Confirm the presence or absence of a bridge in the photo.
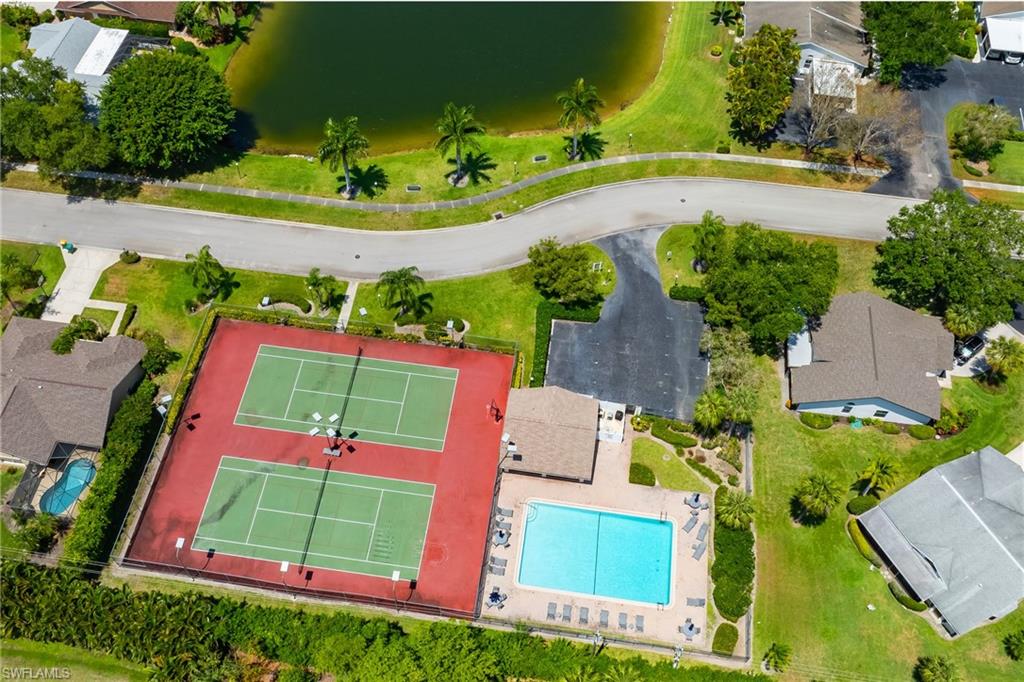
No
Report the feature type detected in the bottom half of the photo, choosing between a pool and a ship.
pool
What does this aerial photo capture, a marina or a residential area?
residential area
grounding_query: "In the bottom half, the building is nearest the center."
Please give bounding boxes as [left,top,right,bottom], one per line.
[501,386,598,488]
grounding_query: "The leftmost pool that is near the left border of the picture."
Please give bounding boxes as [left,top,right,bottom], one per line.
[37,456,98,518]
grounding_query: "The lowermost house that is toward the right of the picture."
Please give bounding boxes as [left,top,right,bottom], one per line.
[854,446,1024,637]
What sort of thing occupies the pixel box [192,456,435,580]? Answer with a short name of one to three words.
tennis court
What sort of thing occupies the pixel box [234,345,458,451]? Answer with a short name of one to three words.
tennis court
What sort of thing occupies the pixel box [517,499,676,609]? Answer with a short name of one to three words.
swimming pool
